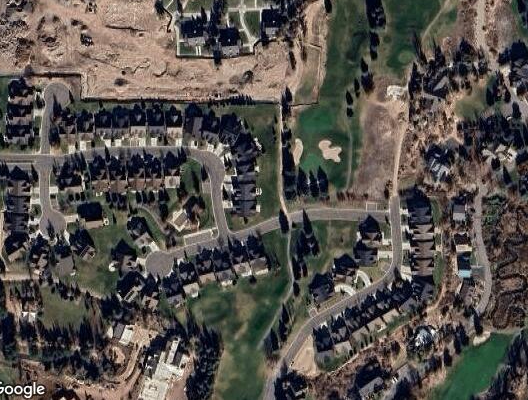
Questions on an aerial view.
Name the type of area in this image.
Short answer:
residential area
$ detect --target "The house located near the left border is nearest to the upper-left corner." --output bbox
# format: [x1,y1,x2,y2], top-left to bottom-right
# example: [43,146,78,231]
[9,85,33,105]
